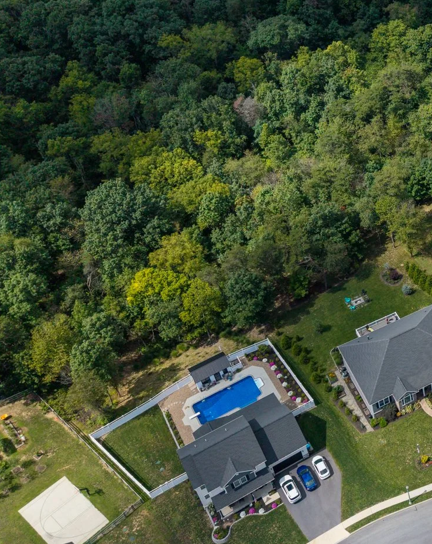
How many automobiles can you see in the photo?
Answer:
3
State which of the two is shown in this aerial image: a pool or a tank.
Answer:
pool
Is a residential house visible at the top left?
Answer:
No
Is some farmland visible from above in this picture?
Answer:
No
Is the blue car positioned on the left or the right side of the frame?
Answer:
right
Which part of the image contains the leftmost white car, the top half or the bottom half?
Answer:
bottom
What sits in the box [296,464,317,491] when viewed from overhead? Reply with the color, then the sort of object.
blue car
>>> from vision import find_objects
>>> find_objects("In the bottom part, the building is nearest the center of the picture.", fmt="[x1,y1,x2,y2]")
[185,349,233,390]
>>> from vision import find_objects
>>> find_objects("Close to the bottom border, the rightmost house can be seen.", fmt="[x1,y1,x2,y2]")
[177,392,309,525]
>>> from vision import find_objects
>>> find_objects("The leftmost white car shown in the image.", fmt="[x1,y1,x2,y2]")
[280,475,302,503]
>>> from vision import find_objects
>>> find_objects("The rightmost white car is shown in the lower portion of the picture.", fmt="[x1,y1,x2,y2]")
[311,455,331,481]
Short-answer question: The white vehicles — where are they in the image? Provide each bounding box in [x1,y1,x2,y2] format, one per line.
[280,475,302,503]
[311,455,331,481]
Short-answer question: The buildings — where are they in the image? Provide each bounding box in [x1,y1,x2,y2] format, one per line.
[177,392,309,525]
[337,306,432,414]
[185,349,233,390]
